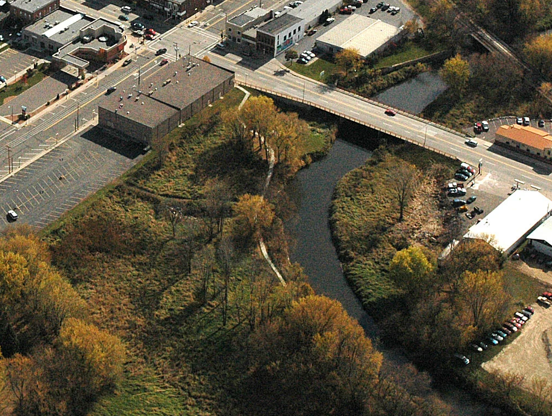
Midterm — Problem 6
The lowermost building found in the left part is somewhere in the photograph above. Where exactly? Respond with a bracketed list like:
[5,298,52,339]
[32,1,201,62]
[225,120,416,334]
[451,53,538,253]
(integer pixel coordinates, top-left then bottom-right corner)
[98,54,234,148]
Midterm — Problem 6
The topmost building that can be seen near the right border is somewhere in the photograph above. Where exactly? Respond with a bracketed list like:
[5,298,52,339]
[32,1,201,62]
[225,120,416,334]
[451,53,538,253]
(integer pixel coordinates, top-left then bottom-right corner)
[497,122,552,165]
